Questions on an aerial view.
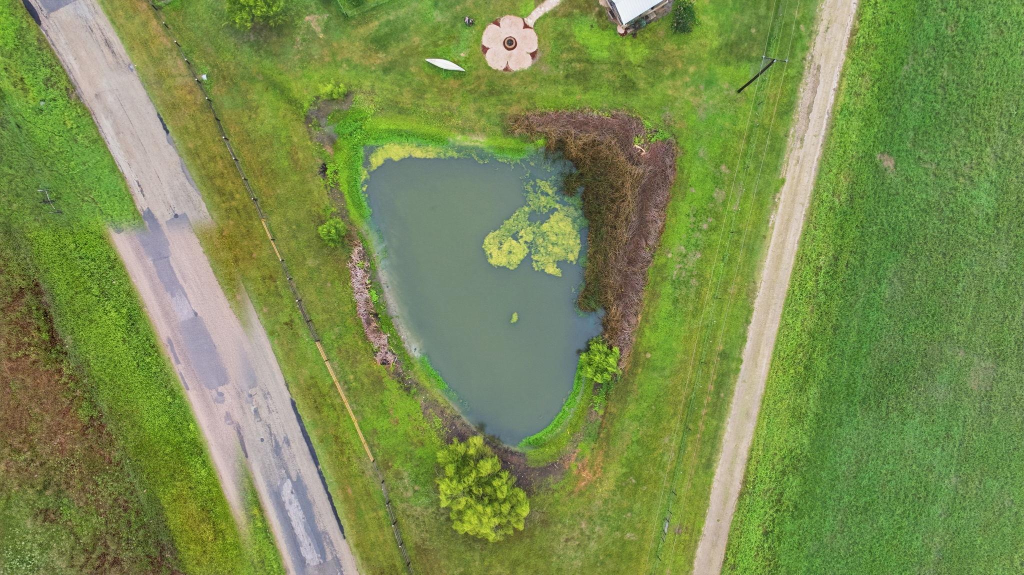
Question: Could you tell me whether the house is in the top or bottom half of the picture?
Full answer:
The house is in the top half of the image.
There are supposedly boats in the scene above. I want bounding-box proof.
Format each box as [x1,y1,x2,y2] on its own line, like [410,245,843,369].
[426,59,465,72]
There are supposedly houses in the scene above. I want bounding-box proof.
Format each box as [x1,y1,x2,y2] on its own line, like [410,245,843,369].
[600,0,671,33]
